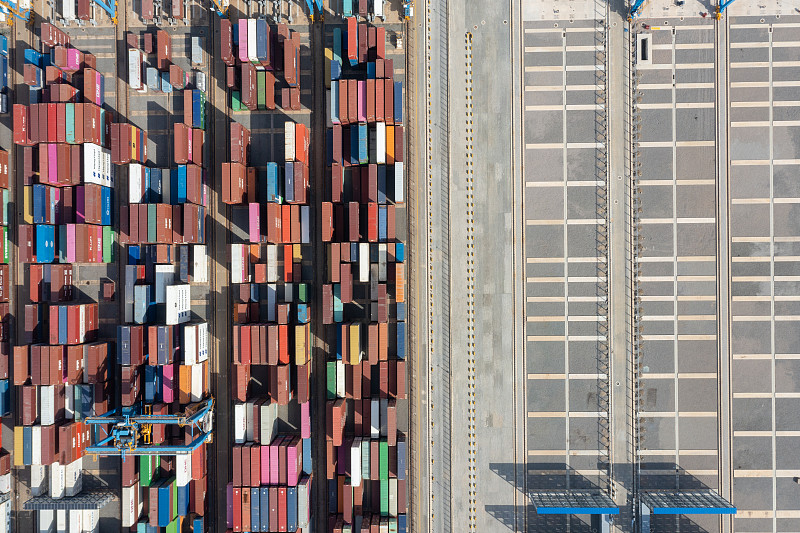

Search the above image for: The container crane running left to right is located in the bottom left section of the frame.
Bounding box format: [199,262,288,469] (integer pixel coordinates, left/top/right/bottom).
[84,392,219,455]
